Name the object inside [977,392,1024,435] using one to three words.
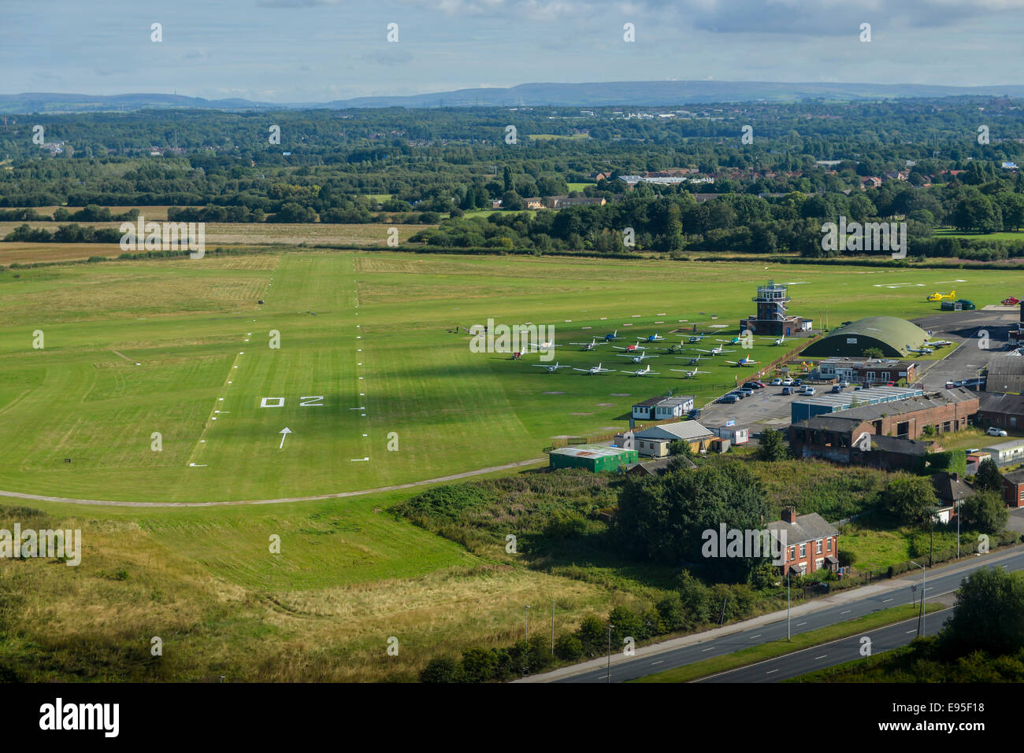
building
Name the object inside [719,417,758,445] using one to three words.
building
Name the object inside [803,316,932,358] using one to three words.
hangar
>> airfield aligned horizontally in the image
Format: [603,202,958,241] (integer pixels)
[0,252,1024,507]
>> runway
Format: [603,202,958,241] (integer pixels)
[187,256,376,470]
